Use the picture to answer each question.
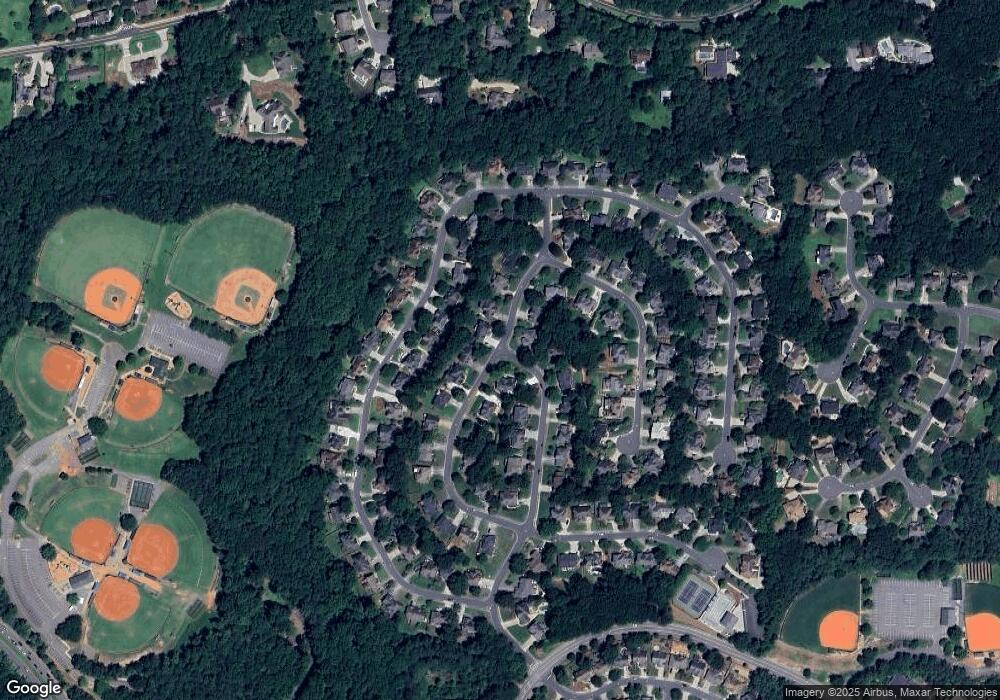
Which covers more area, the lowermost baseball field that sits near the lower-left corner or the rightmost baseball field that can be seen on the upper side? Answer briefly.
the rightmost baseball field that can be seen on the upper side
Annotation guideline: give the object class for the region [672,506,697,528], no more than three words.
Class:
house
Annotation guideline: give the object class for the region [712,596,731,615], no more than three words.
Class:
swimming pool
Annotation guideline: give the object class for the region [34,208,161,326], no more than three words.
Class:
baseball field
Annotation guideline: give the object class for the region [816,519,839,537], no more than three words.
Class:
house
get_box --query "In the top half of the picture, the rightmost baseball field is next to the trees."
[165,205,295,326]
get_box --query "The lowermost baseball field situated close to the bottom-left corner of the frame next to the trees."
[90,576,172,660]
